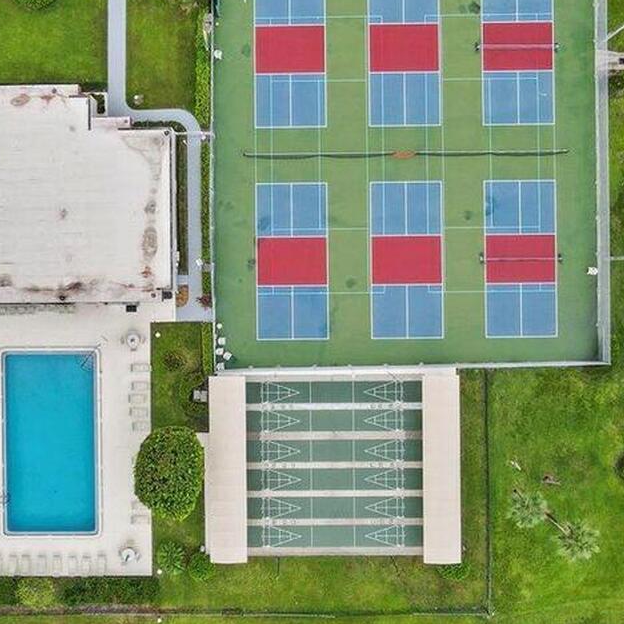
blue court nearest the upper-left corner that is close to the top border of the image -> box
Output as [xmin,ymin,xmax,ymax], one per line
[254,0,327,129]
